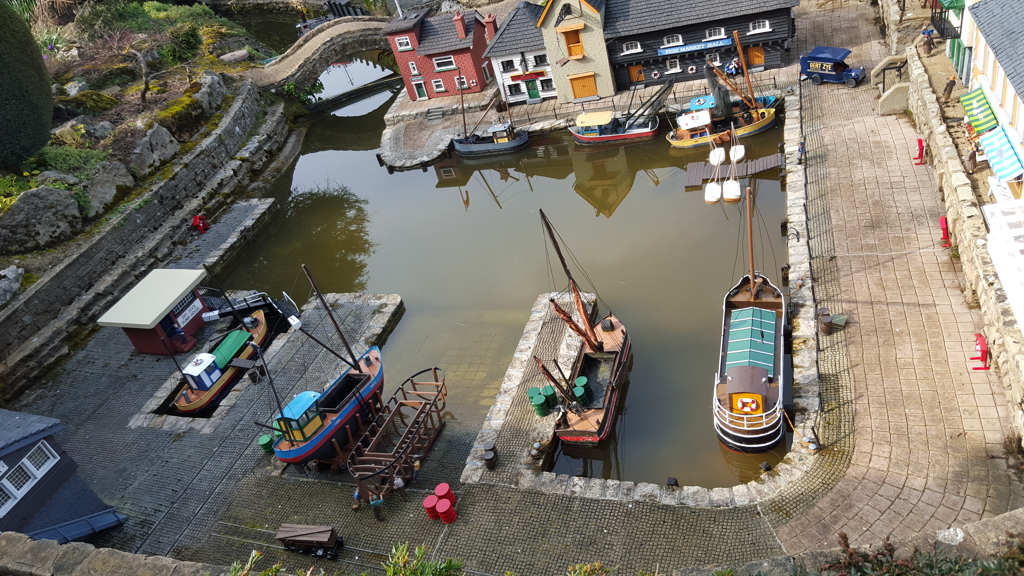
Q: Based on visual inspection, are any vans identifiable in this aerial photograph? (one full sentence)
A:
Yes, you can see a van in this photo.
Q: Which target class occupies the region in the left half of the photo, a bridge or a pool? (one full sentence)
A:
Visible in the left half of the photo is a bridge.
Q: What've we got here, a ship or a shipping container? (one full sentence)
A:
It is a ship that can be seen here.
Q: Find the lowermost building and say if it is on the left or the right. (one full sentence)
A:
The lowermost building appears in the left half of the scene.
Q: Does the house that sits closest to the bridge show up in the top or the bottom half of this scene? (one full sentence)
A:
The top half of the photo is where the house that sits closest to the bridge is.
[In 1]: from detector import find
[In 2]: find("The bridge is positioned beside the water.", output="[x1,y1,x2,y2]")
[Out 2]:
[258,6,401,103]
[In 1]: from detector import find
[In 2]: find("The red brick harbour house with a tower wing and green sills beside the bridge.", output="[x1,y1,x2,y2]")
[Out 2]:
[377,0,499,101]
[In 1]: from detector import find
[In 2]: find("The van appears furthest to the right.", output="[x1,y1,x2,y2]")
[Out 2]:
[799,49,869,86]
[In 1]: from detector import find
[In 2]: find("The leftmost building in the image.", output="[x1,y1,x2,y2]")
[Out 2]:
[0,400,129,576]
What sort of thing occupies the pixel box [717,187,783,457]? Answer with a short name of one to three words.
ship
